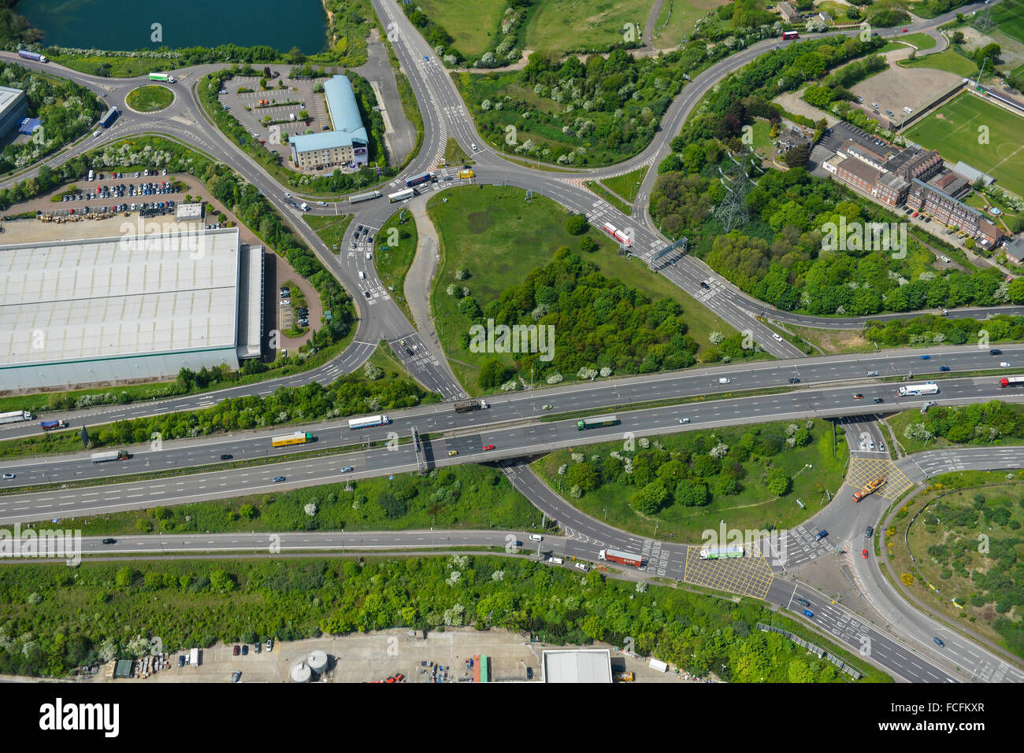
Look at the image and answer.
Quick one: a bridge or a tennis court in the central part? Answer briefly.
bridge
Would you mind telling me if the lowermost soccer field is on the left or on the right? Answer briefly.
right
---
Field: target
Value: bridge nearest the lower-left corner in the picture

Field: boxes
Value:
[394,382,583,474]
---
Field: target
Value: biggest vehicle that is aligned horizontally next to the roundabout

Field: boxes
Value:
[148,71,177,83]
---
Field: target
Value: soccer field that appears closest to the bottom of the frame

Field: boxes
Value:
[901,90,1024,202]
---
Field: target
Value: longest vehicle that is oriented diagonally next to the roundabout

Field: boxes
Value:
[99,108,119,126]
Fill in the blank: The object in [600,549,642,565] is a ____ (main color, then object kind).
white vehicle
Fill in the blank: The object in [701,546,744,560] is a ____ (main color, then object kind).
white vehicle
